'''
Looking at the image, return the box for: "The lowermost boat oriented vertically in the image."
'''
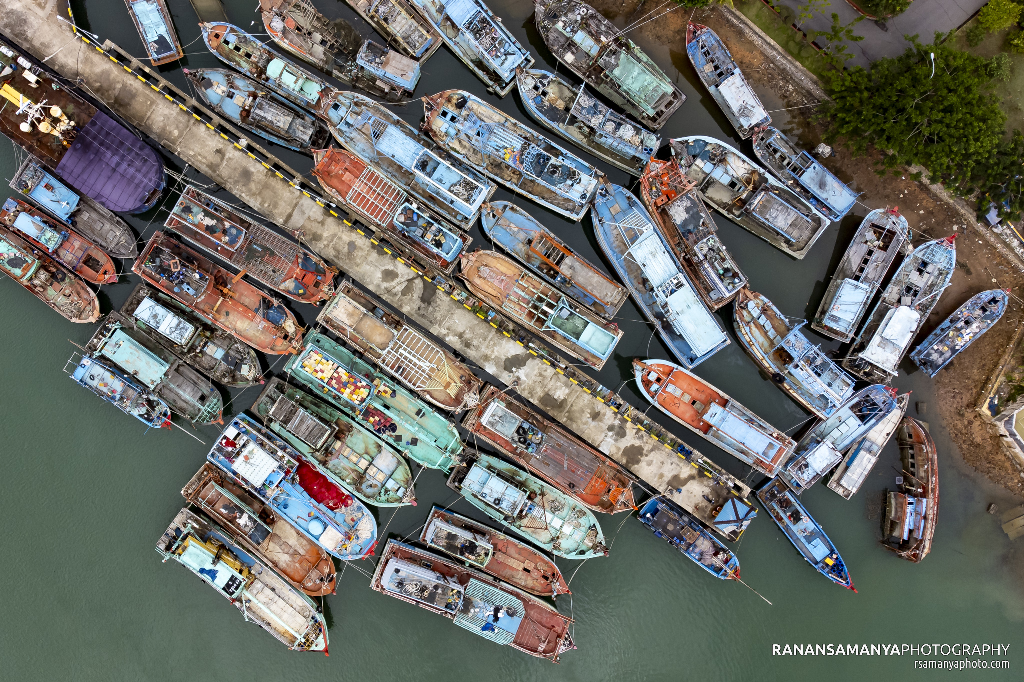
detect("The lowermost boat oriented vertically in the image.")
[874,415,939,554]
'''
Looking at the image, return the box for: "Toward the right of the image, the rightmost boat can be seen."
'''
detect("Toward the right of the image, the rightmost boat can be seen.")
[909,286,1013,378]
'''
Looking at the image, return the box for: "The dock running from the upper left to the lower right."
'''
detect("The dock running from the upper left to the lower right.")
[0,0,756,543]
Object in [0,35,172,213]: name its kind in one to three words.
ship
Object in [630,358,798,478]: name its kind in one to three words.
boat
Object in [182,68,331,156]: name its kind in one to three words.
boat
